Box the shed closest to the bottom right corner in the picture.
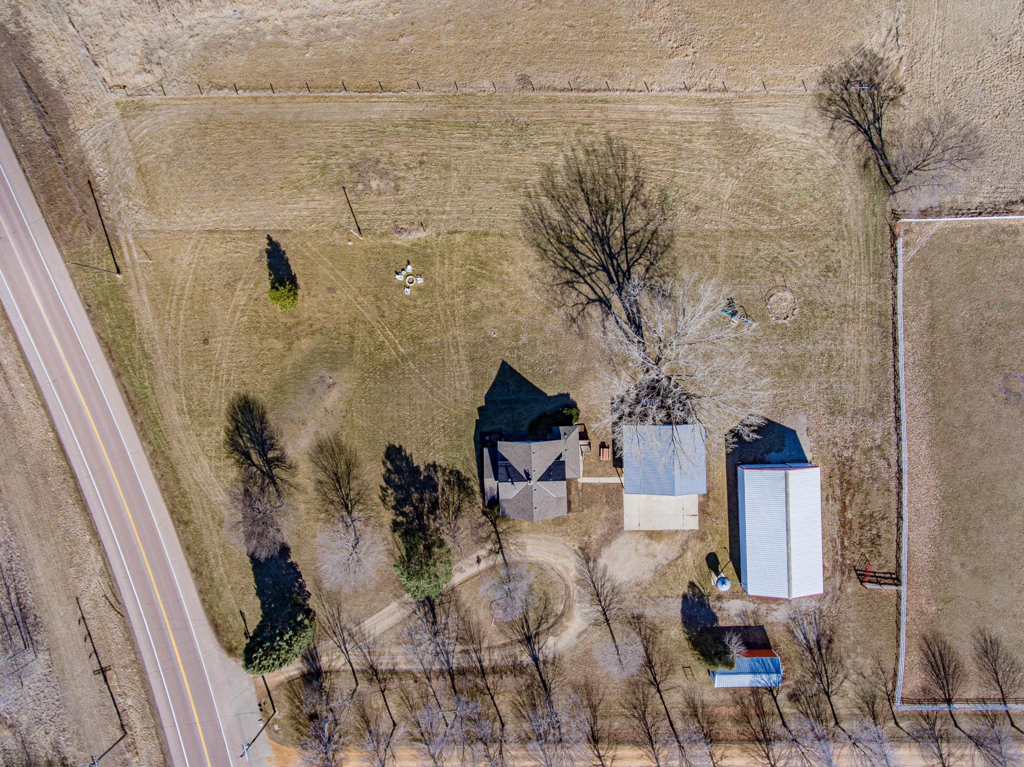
[711,650,785,688]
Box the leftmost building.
[483,427,592,521]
